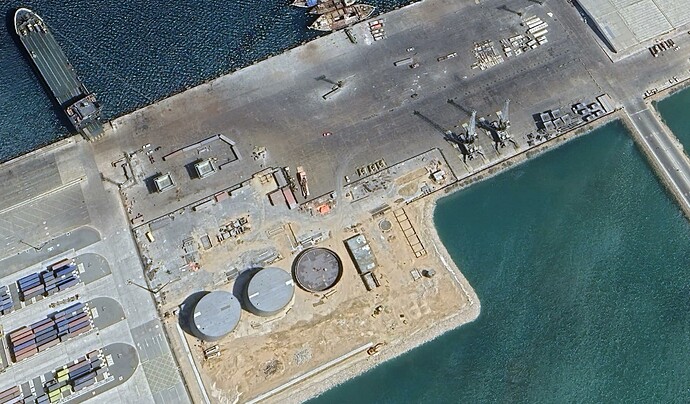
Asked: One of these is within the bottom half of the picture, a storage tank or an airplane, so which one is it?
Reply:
storage tank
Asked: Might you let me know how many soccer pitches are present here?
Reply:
0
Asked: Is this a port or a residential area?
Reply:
port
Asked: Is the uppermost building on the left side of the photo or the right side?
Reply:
right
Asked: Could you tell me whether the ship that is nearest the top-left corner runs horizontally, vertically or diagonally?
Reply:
diagonally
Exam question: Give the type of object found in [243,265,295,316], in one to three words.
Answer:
storage tank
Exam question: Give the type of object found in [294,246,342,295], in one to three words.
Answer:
storage tank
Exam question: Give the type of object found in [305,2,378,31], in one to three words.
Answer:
boat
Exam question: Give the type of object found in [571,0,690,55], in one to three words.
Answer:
building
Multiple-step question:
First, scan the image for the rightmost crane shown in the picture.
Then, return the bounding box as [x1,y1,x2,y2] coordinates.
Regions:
[484,99,522,157]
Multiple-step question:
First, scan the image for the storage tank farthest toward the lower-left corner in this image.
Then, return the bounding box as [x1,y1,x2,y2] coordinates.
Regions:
[189,290,241,341]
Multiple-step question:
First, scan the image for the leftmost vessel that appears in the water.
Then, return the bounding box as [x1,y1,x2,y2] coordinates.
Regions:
[15,7,152,143]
